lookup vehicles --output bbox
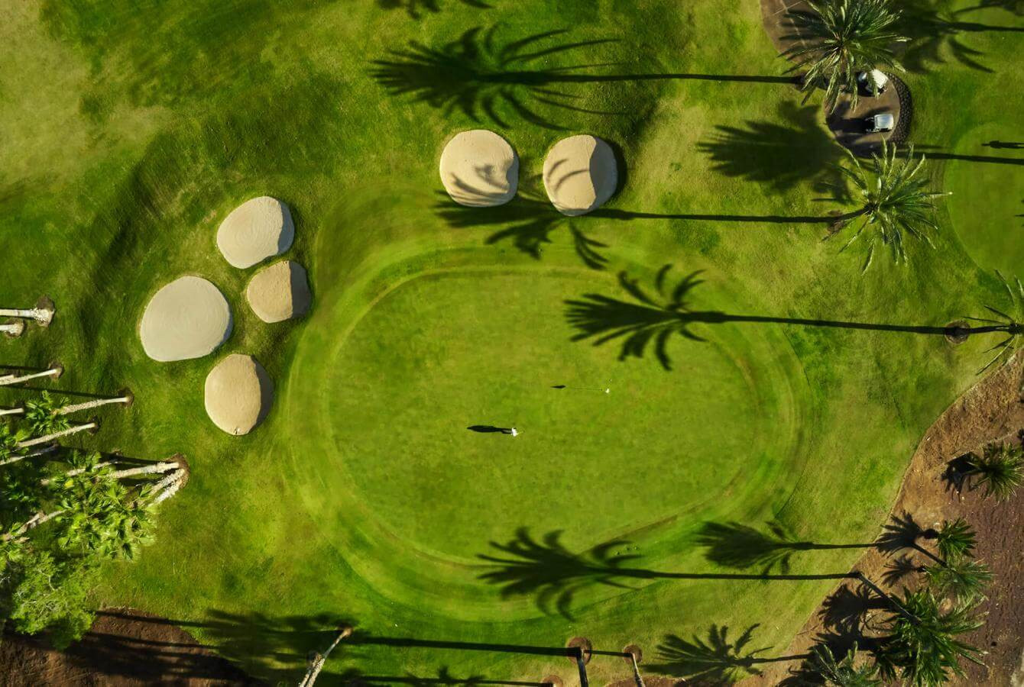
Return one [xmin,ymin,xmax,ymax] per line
[863,112,896,130]
[866,67,891,93]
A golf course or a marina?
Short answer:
golf course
